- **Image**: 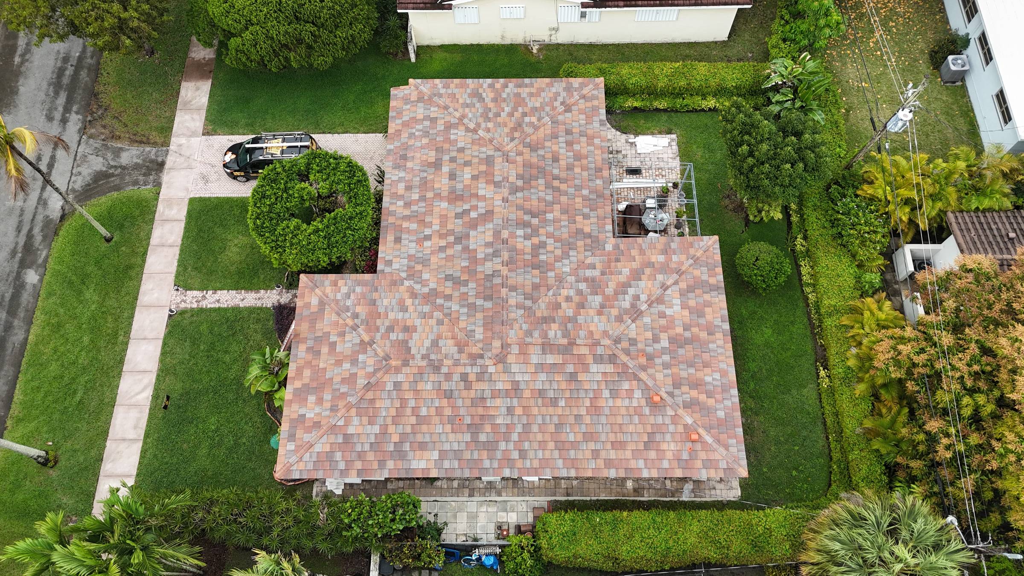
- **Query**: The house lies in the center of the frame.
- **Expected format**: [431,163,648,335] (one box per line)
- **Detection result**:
[273,75,749,480]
